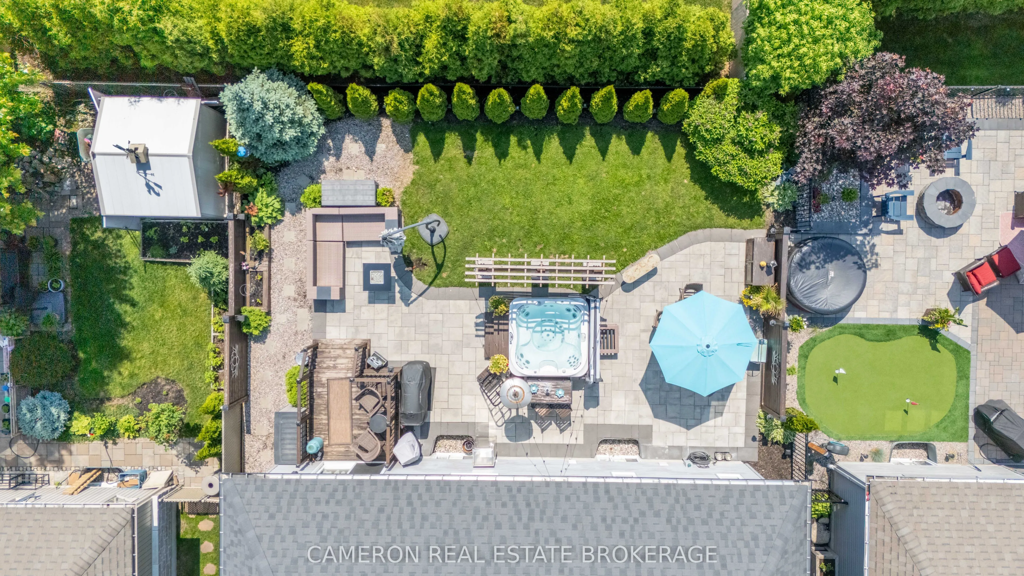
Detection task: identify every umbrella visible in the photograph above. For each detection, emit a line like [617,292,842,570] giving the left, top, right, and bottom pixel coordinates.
[378,214,448,259]
[649,290,757,397]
